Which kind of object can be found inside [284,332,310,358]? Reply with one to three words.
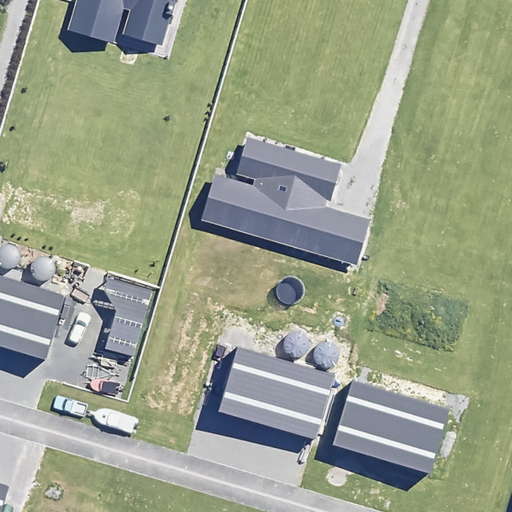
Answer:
water tank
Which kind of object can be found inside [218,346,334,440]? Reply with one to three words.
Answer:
shed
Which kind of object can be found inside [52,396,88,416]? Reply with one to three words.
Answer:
vehicle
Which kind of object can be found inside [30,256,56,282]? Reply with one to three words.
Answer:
water tank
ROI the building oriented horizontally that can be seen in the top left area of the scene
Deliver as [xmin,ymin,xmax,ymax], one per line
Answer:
[64,0,186,58]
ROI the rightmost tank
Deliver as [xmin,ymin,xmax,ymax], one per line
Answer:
[313,342,339,369]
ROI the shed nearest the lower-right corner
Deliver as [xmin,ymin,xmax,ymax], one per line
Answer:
[332,380,450,474]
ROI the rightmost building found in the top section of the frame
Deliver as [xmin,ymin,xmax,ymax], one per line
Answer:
[201,137,370,266]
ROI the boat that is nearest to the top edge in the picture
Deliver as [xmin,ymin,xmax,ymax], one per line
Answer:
[86,381,122,396]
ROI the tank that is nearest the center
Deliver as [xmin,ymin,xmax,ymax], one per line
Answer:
[276,275,305,305]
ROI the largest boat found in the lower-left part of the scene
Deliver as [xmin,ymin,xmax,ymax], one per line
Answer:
[92,408,140,432]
